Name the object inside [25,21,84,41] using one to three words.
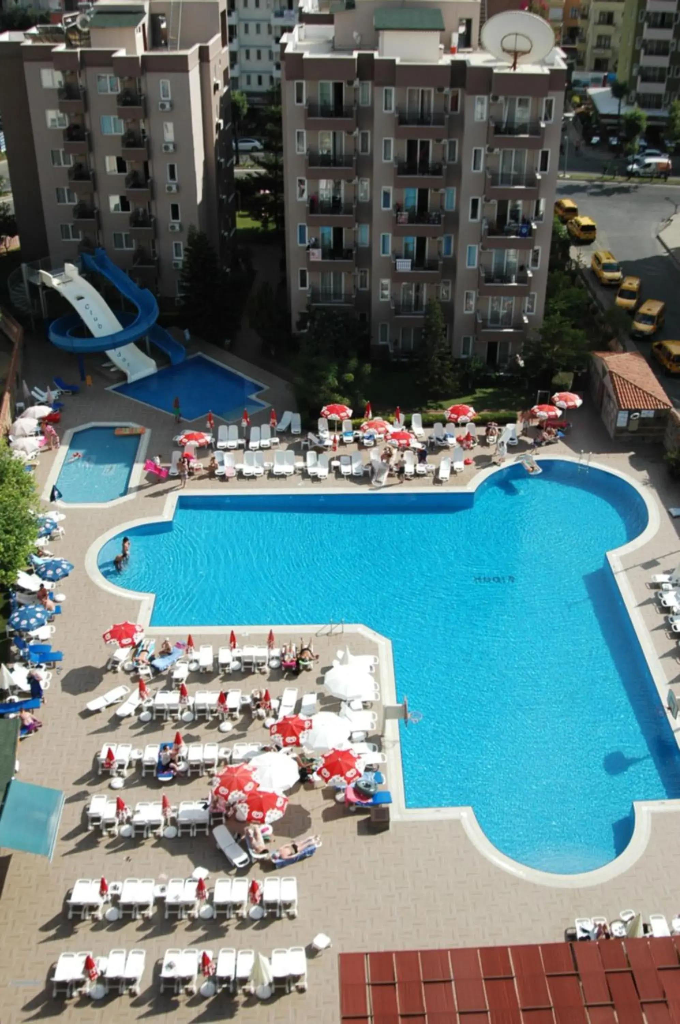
solar panel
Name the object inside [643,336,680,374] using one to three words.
car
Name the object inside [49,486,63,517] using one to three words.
umbrella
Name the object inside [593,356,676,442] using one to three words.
shed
